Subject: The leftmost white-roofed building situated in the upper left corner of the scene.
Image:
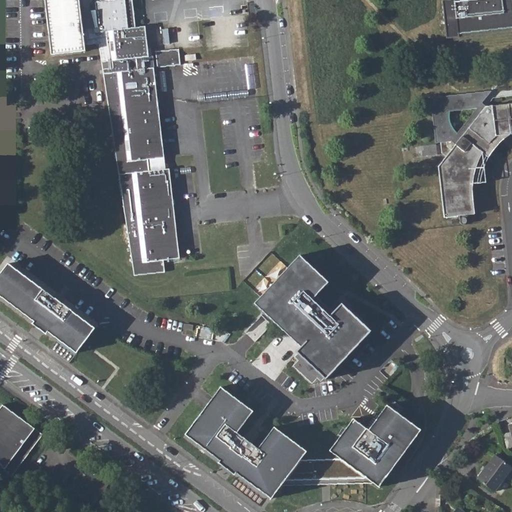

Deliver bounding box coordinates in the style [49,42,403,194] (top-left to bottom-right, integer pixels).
[46,0,85,54]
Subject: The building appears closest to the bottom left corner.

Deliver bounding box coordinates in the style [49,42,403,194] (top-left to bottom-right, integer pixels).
[0,404,35,478]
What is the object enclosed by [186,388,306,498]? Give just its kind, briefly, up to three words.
building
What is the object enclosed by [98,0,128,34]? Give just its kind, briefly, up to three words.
building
